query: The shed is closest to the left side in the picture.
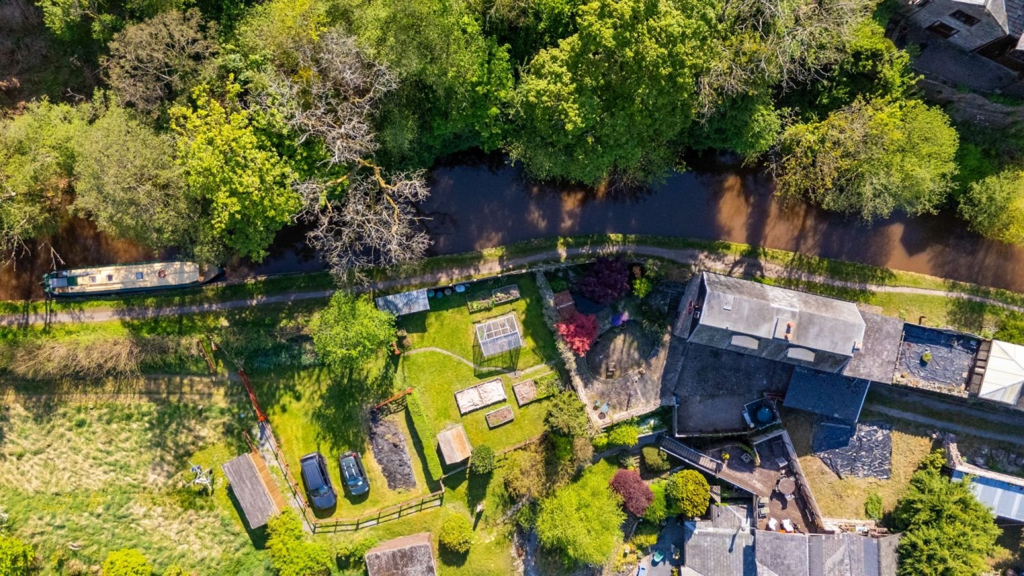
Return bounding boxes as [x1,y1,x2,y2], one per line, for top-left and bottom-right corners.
[222,449,289,529]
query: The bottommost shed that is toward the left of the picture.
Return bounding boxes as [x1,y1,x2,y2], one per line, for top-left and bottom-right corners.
[366,533,439,576]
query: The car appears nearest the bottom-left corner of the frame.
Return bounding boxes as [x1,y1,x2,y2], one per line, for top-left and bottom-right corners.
[300,449,338,511]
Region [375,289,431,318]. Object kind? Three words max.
shed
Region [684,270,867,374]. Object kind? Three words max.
house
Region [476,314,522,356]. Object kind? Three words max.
greenhouse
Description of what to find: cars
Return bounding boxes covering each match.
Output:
[339,447,370,498]
[300,449,338,511]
